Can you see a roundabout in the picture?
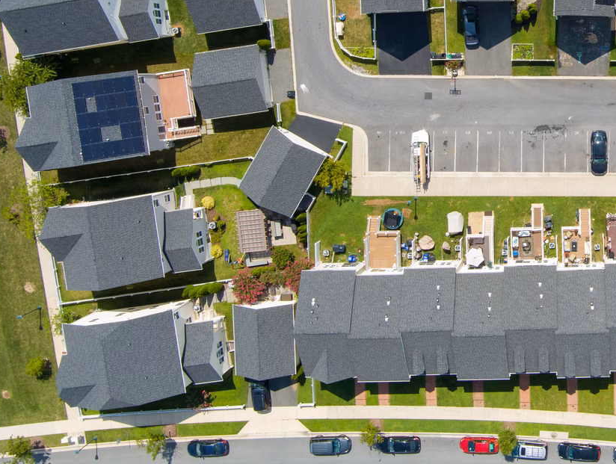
No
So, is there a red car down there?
Yes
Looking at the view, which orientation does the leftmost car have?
horizontally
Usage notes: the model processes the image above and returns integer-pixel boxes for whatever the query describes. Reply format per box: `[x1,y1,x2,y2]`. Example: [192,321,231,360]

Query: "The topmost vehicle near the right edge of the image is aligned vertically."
[589,130,609,173]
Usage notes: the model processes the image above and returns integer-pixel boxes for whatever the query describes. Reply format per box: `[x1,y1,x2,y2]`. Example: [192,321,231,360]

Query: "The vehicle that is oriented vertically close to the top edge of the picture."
[461,5,481,47]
